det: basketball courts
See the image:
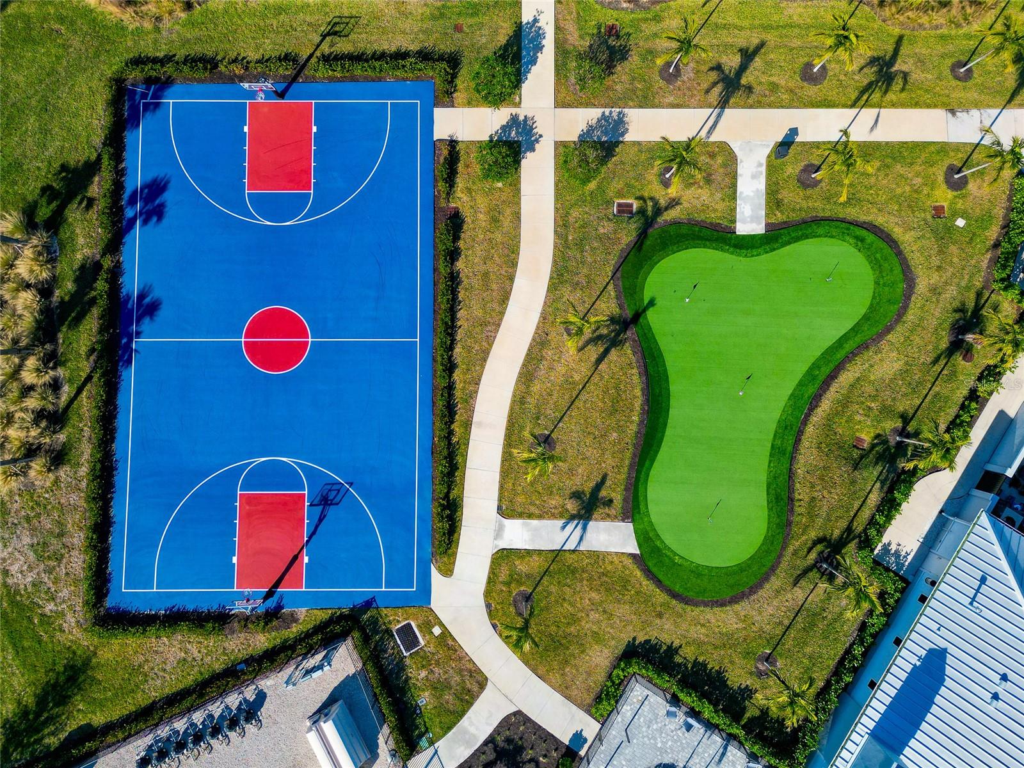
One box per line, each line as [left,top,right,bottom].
[107,80,434,608]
